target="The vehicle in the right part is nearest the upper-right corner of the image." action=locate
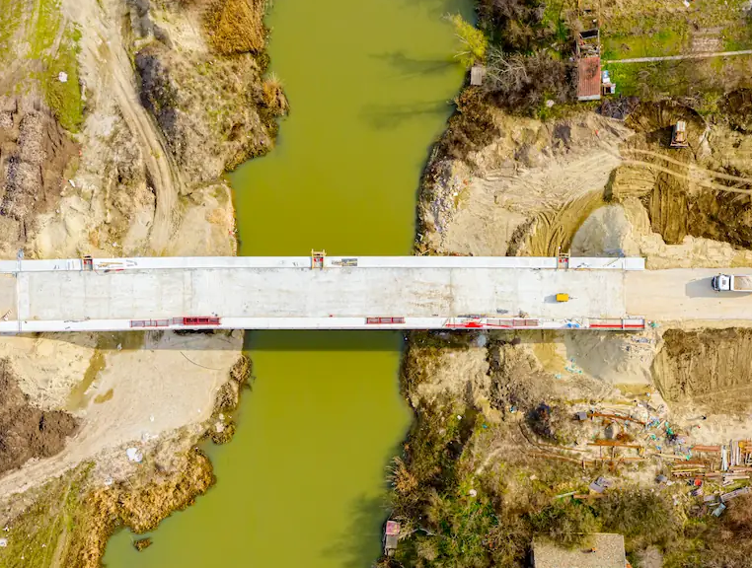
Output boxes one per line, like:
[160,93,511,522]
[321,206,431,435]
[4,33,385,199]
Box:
[665,123,686,151]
